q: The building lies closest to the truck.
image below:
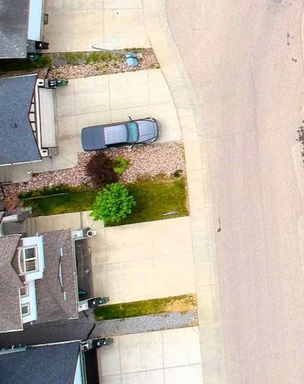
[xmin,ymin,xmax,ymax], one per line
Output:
[0,72,59,172]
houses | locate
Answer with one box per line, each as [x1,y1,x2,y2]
[0,228,94,334]
[0,339,102,384]
[0,72,59,172]
[0,0,49,61]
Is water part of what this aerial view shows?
No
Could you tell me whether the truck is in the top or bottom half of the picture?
top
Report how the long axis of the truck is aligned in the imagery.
horizontally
